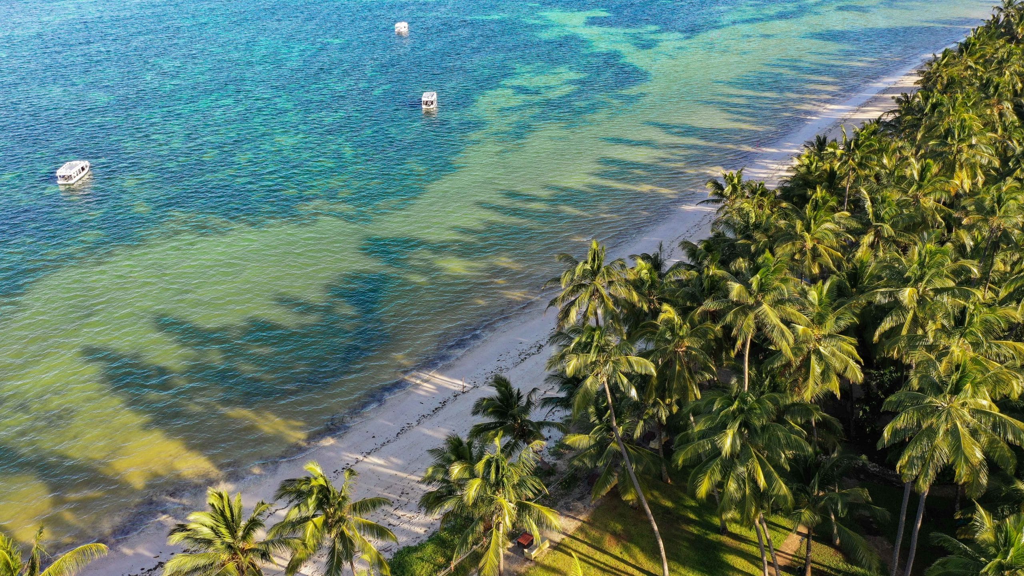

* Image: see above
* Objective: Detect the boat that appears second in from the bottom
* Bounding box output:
[423,88,436,109]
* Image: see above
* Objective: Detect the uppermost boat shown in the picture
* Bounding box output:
[393,21,408,33]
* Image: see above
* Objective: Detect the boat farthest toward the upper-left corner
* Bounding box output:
[56,153,93,184]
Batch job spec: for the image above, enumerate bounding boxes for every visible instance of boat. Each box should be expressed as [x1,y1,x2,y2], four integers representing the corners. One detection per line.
[393,21,408,33]
[423,88,436,109]
[56,153,93,184]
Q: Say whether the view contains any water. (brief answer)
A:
Yes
